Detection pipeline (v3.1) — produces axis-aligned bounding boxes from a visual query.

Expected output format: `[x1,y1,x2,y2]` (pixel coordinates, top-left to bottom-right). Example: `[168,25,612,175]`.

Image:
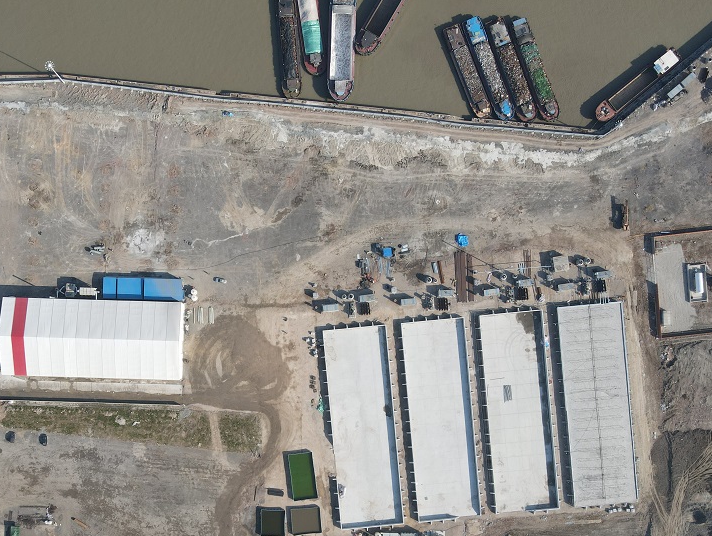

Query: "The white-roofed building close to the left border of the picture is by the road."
[0,297,186,380]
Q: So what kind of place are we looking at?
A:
industrial area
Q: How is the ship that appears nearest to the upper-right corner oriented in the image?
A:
at an angle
